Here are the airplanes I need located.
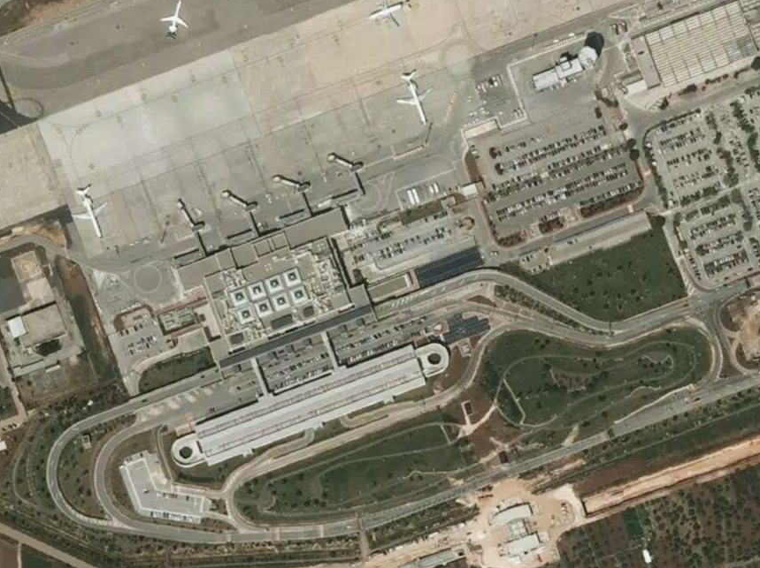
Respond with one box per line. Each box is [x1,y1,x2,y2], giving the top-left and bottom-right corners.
[161,0,189,35]
[369,0,411,27]
[395,68,432,123]
[71,183,108,237]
